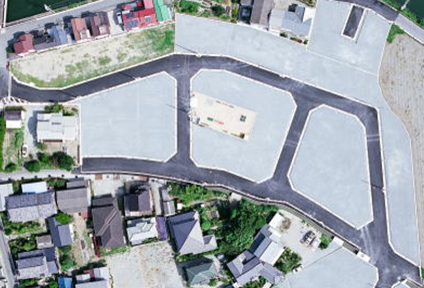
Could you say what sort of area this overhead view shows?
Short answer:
residential area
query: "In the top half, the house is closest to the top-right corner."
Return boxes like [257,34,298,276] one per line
[270,7,312,36]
